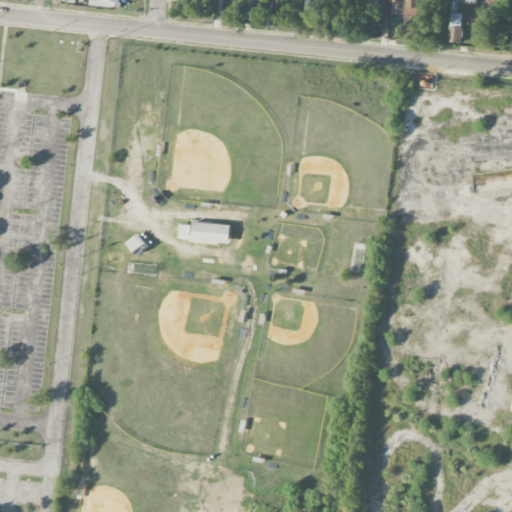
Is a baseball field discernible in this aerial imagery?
Yes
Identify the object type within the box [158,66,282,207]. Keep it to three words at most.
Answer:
baseball field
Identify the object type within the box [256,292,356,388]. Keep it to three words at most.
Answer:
baseball field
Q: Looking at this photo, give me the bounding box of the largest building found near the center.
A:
[178,222,230,246]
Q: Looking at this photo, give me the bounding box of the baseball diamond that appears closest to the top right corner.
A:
[289,96,387,219]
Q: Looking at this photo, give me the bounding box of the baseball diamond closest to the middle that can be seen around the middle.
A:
[270,224,324,270]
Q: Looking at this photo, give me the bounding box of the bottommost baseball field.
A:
[80,466,171,512]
